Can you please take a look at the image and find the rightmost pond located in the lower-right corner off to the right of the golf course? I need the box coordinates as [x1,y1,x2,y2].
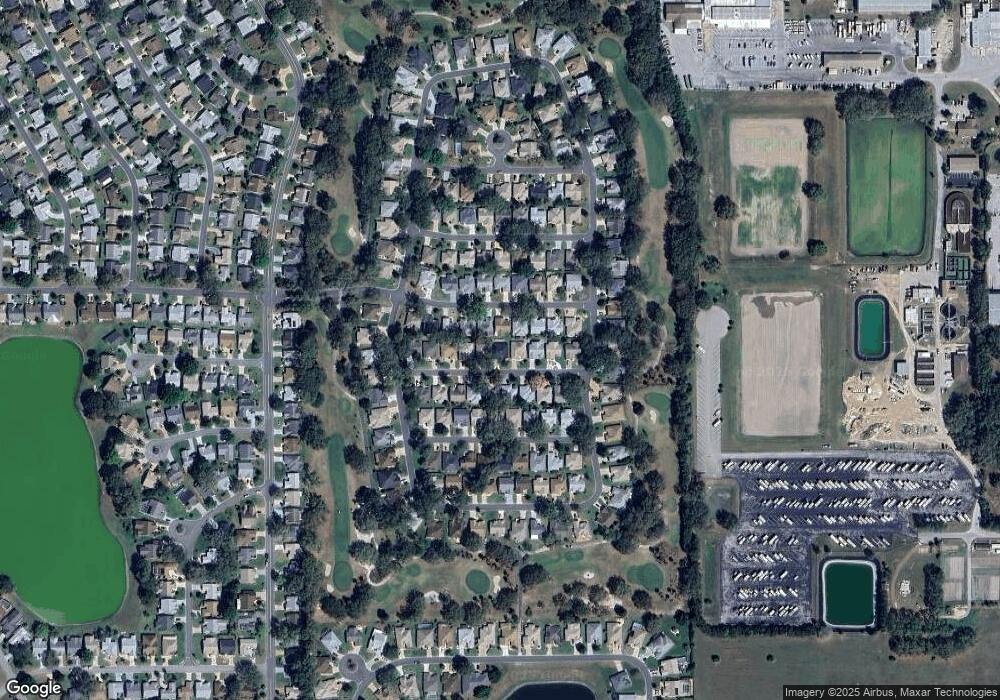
[825,562,873,625]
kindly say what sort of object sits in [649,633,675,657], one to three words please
house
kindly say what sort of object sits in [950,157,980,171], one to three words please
building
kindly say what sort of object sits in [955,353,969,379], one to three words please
shed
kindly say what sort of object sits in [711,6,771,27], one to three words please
building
